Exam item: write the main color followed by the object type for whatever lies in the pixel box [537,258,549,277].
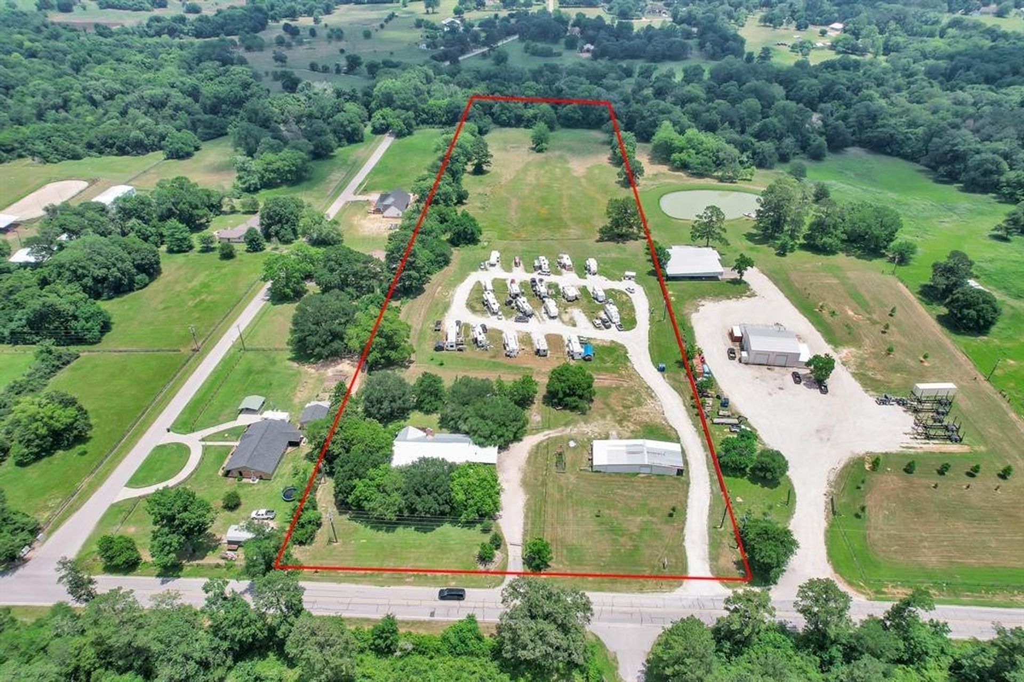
white vehicle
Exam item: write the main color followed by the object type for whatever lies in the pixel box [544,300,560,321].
white vehicle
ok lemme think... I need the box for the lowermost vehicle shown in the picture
[438,587,465,601]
